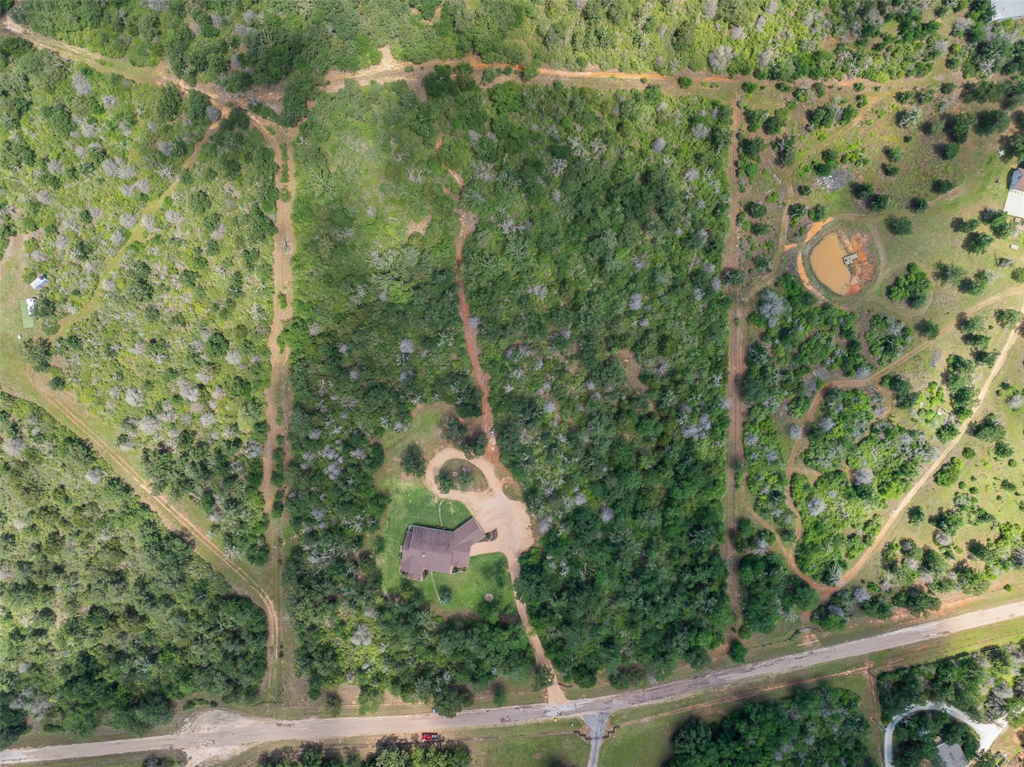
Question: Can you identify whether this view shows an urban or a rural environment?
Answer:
rural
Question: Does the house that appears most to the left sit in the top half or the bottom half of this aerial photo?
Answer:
bottom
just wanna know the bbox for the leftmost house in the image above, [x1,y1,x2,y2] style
[399,518,486,577]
